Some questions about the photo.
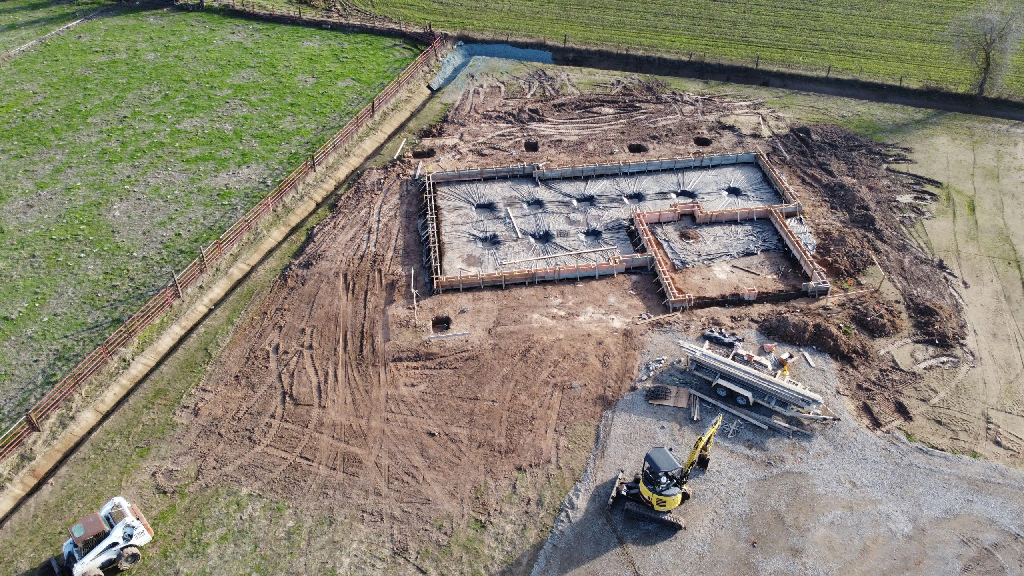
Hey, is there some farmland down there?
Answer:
Yes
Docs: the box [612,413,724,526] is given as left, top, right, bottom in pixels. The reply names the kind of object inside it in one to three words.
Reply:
work vehicle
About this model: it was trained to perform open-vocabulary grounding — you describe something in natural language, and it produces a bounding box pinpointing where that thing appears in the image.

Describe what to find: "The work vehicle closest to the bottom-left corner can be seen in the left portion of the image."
[40,502,157,576]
